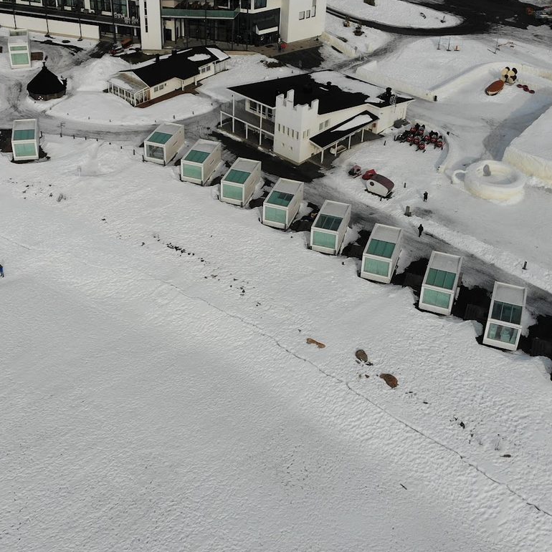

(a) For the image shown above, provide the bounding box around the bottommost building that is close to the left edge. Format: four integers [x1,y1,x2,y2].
[13,119,40,162]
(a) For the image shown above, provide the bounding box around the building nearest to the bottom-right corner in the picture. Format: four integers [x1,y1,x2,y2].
[481,282,526,355]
